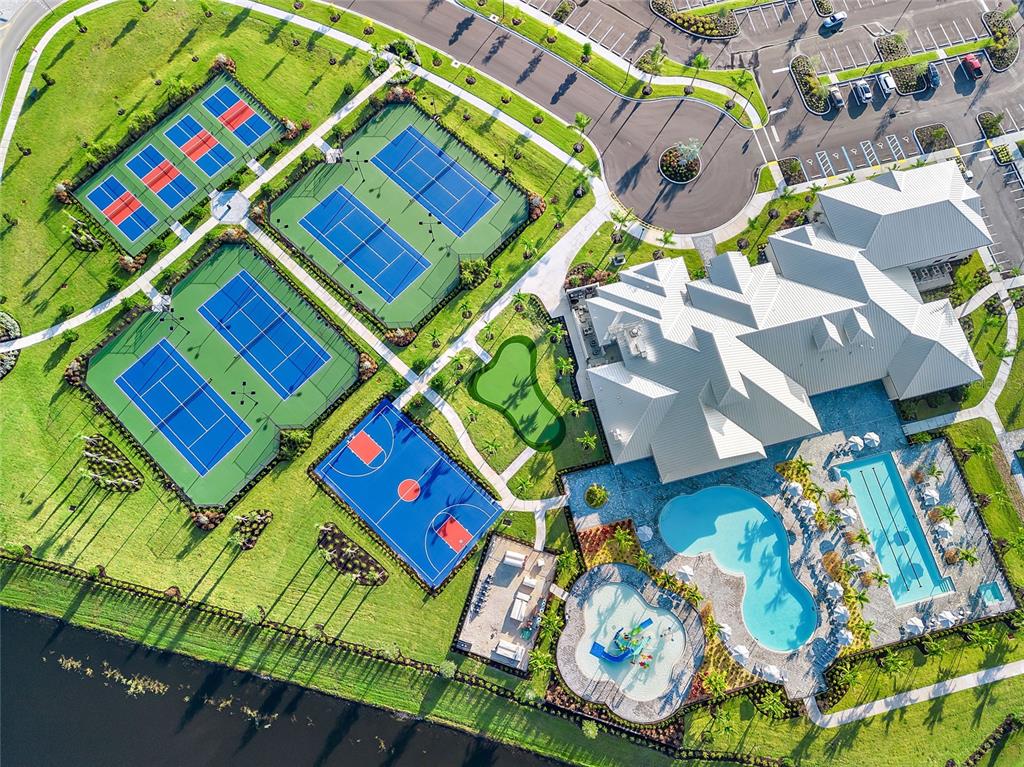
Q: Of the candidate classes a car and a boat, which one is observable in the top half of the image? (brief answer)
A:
car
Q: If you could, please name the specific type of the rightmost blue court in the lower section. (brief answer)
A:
basketball court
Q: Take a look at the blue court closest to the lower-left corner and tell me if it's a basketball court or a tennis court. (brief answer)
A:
tennis court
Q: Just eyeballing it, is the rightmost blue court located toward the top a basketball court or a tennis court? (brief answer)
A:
tennis court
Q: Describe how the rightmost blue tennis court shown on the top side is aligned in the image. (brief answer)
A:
on a diagonal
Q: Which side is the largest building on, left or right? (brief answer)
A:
right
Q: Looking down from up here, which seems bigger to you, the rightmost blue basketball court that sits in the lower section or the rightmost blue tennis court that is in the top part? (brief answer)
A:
the basketball court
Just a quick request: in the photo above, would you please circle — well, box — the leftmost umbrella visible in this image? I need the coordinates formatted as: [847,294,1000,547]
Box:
[635,524,653,542]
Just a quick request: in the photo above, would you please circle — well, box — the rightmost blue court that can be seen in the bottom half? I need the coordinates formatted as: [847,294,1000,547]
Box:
[314,398,504,585]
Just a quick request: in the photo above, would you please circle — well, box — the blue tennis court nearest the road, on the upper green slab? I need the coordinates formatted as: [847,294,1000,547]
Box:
[370,124,500,238]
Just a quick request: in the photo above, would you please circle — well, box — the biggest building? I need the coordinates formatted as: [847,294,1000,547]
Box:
[585,160,993,484]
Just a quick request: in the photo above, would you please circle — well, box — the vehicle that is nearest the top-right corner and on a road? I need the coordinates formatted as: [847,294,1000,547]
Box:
[963,55,983,80]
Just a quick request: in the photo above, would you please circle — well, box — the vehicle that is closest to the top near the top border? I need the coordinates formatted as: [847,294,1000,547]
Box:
[823,12,846,28]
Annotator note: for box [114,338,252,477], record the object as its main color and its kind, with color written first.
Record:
blue tennis court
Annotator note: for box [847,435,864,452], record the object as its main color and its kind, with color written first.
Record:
white umbrella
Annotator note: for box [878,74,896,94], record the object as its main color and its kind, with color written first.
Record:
white car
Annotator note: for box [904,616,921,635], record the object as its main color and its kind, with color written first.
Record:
white umbrella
